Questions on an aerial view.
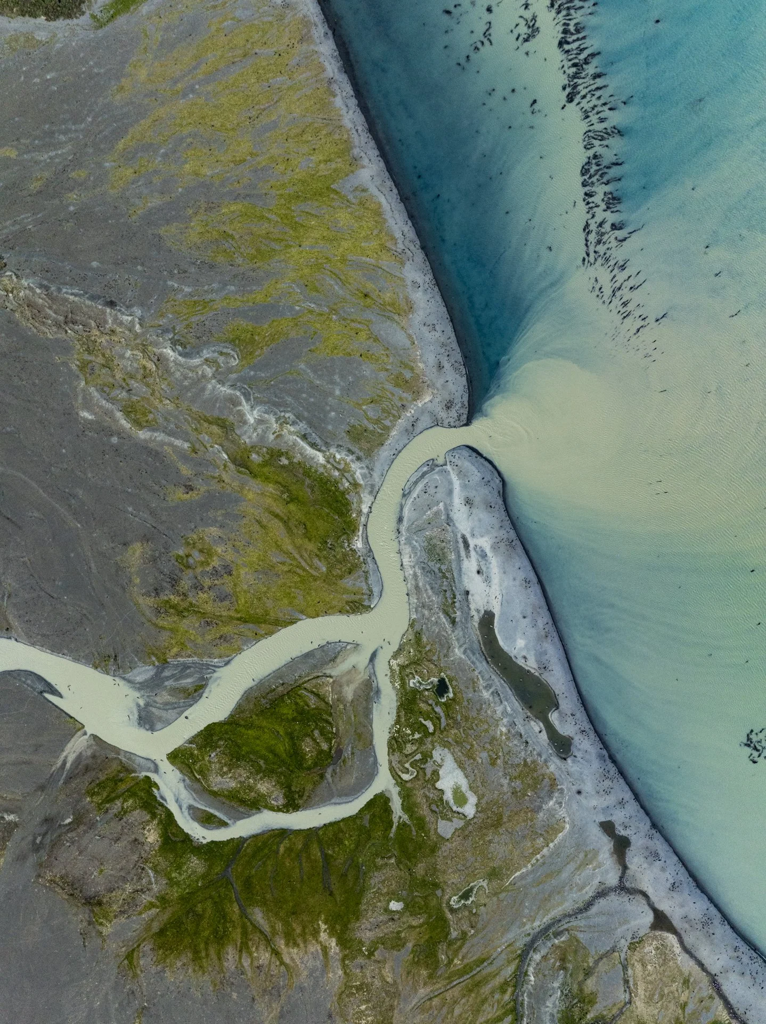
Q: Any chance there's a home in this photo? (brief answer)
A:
No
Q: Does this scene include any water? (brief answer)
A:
Yes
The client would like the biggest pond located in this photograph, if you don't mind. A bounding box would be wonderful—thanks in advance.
[478,610,573,757]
